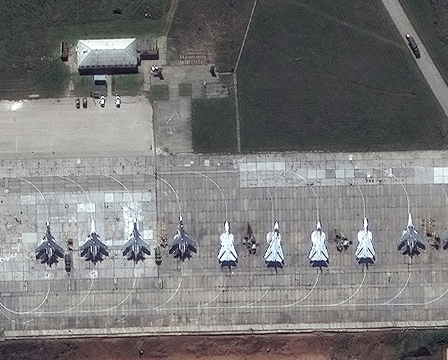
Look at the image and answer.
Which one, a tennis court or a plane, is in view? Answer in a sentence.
The one in the frame is a plane.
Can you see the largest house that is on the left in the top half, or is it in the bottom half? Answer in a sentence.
You can find the largest house that is on the left in the top half.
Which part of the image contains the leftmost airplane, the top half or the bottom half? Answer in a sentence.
Seen from above, the leftmost airplane lies in the bottom half of the view.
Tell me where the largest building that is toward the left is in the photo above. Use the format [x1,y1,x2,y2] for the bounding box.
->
[77,38,138,70]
